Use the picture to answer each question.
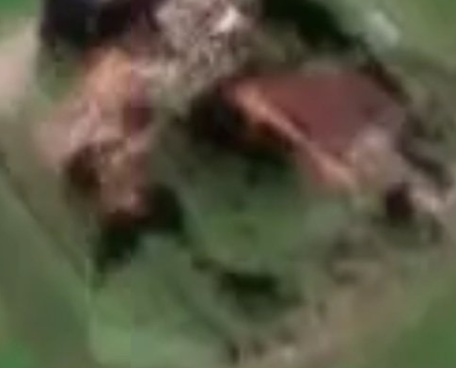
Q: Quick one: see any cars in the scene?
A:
No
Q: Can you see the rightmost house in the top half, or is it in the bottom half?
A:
top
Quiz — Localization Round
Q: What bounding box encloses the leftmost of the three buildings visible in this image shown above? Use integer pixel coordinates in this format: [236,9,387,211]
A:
[85,52,161,217]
